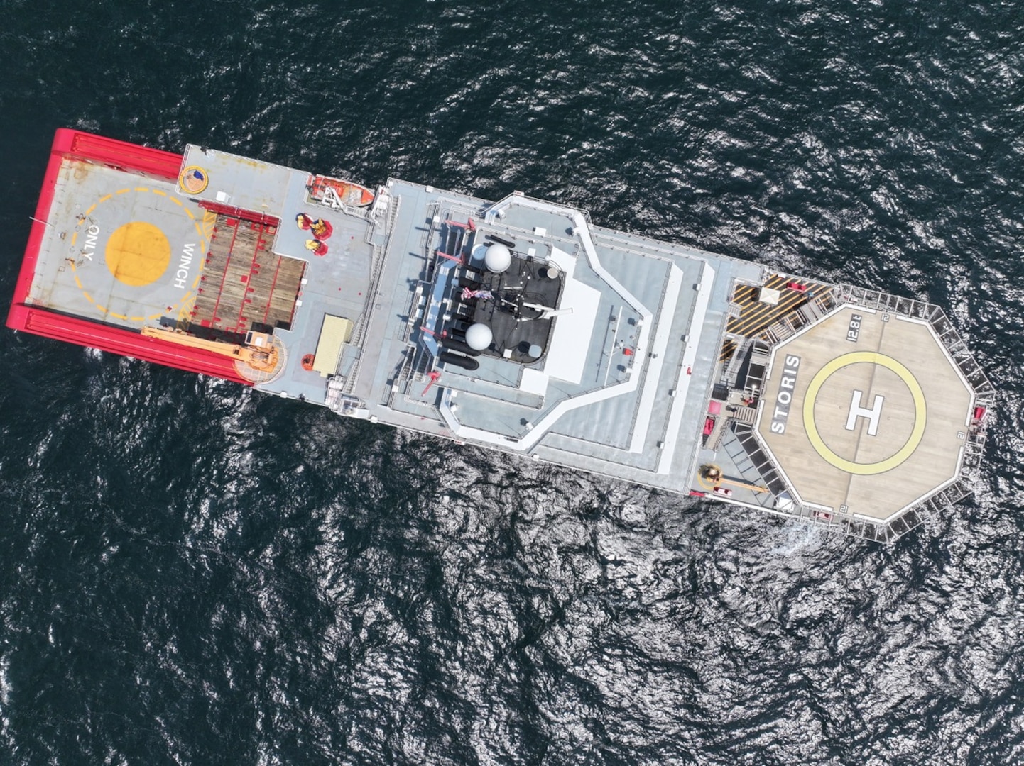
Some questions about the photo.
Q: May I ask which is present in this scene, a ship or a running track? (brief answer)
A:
ship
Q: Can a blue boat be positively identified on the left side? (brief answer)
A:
No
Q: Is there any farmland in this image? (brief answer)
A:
No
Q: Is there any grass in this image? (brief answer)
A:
No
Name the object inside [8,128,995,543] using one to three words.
ship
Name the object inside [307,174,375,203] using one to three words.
boat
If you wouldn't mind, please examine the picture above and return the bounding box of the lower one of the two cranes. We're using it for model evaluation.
[698,465,772,494]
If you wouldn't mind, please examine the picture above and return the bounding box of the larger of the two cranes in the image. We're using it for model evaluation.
[140,322,287,385]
